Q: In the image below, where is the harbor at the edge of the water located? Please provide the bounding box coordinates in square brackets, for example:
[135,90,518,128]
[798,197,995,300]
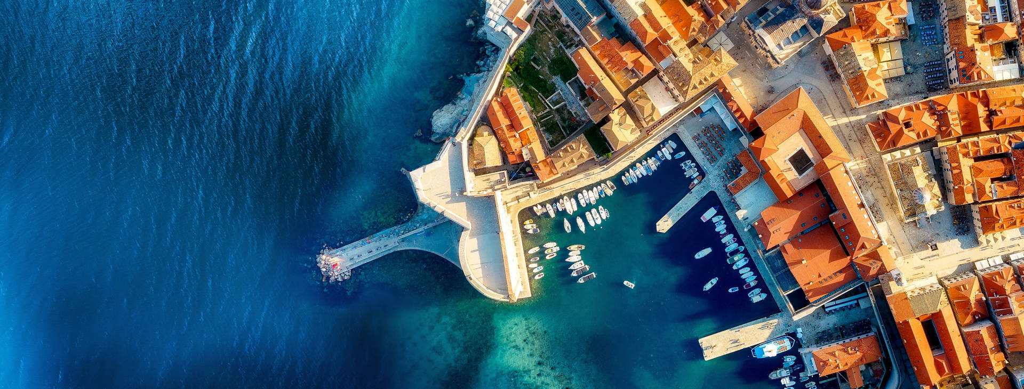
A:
[506,123,811,377]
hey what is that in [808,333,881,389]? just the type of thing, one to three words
building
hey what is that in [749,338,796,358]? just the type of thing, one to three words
vessel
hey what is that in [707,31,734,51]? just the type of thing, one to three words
umbrella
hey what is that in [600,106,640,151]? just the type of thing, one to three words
house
